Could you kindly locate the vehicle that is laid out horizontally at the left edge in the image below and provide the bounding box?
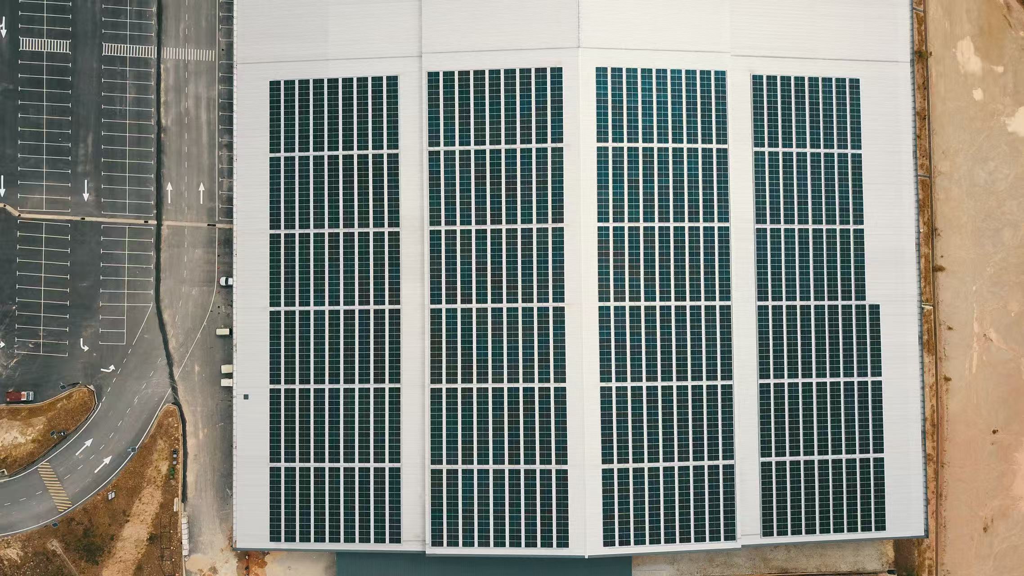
[3,391,36,403]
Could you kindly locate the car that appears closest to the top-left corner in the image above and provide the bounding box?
[218,275,233,287]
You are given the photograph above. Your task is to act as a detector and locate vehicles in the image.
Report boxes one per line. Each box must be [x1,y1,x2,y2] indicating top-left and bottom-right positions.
[218,275,233,287]
[216,327,233,337]
[3,391,36,403]
[222,365,233,375]
[222,379,233,388]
